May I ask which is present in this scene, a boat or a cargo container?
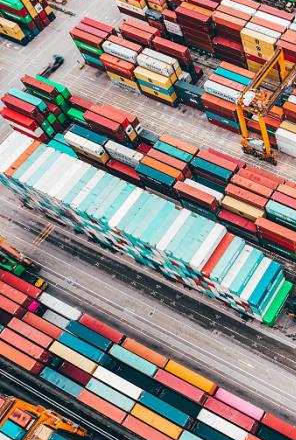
cargo container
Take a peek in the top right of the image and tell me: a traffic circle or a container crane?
container crane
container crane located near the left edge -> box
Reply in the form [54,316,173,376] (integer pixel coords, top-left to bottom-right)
[0,389,98,440]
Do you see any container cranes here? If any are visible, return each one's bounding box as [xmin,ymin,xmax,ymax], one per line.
[0,389,98,440]
[231,45,296,165]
